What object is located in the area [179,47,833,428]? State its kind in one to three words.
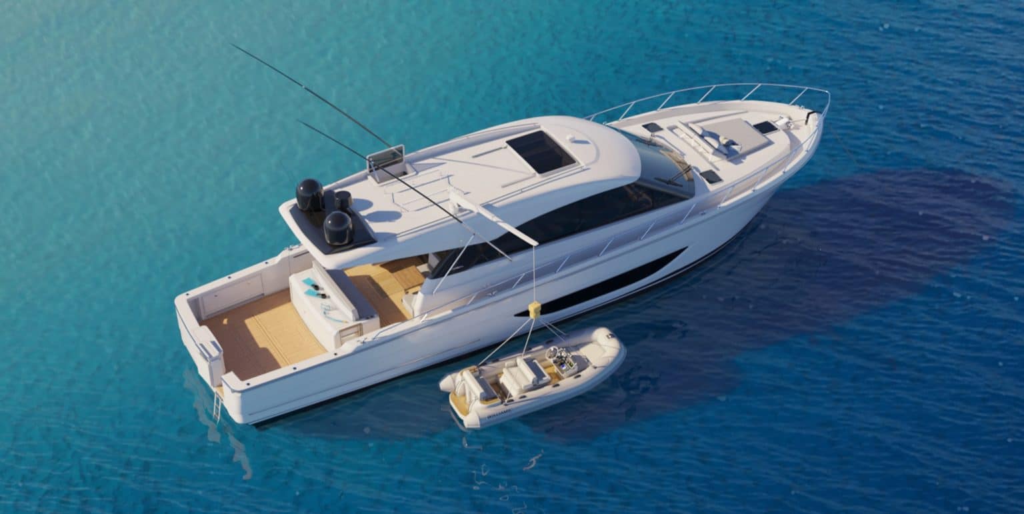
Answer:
boat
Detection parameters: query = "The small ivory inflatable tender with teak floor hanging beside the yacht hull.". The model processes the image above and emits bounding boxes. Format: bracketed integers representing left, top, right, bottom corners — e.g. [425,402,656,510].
[435,327,629,431]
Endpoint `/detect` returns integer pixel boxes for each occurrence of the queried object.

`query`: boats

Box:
[179,47,833,428]
[435,327,629,431]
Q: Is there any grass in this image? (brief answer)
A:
No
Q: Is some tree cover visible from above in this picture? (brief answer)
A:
No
